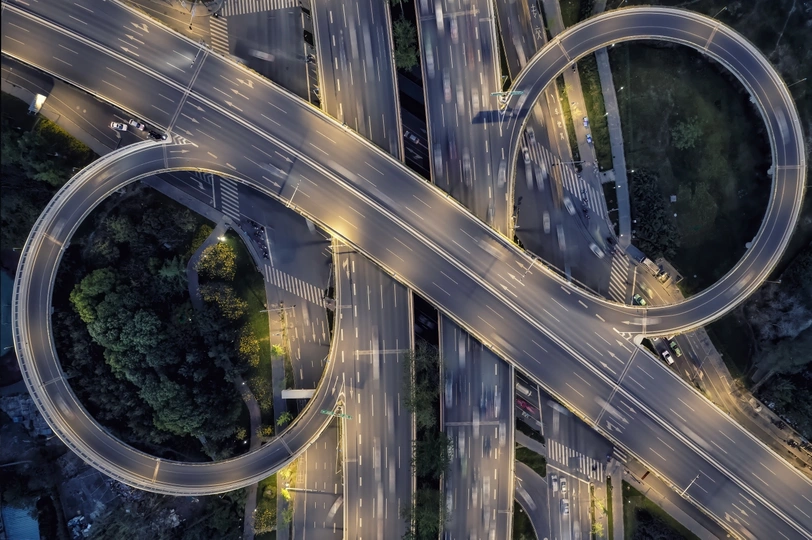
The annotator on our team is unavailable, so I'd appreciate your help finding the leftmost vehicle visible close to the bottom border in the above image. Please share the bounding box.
[326,500,341,519]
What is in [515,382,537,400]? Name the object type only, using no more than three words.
vehicle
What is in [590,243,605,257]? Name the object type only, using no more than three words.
car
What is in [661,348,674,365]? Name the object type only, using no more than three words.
vehicle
